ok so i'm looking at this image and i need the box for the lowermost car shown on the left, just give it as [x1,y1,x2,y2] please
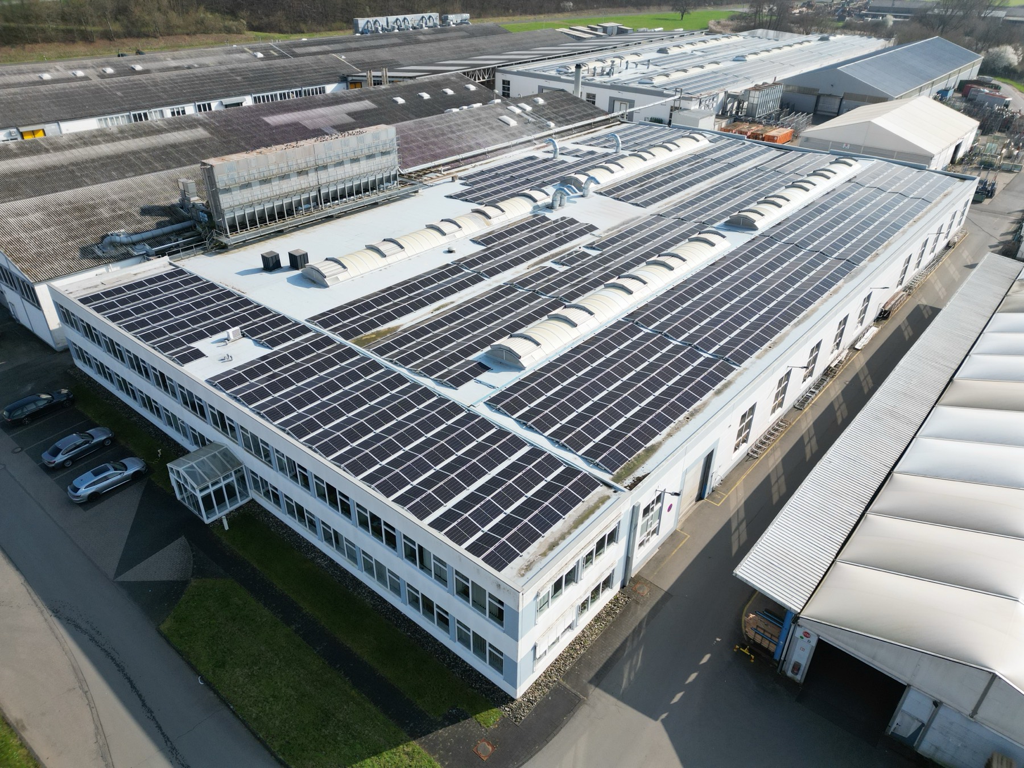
[65,462,149,505]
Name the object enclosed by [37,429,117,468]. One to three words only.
car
